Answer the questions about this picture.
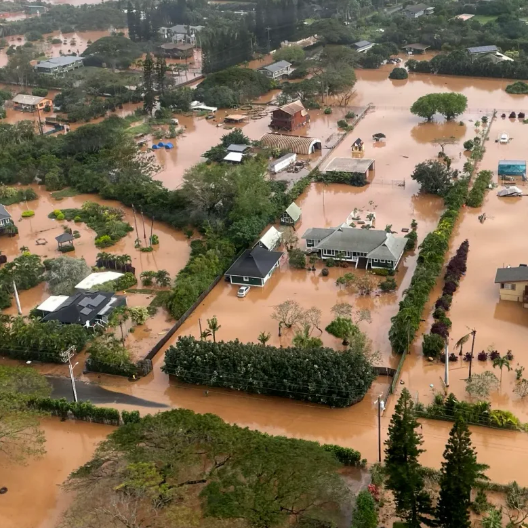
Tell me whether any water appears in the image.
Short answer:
Yes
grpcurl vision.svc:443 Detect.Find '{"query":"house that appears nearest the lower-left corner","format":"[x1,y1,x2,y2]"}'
[37,268,130,336]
